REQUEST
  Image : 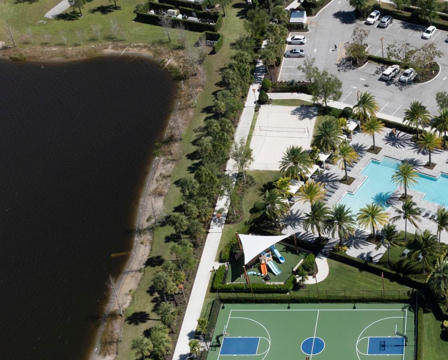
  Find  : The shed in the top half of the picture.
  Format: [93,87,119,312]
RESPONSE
[289,11,306,33]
